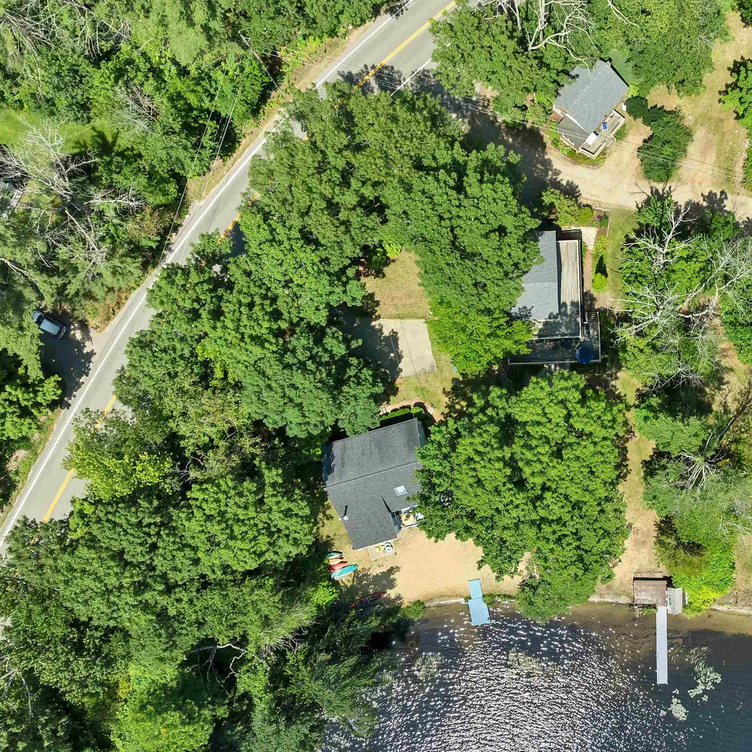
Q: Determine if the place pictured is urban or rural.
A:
rural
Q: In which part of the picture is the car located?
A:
left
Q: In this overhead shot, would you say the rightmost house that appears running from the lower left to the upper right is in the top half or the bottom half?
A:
top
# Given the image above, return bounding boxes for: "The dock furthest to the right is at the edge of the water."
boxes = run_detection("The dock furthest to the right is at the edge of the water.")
[655,607,668,684]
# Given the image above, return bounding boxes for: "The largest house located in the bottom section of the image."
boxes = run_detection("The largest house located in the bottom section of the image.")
[323,416,434,551]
